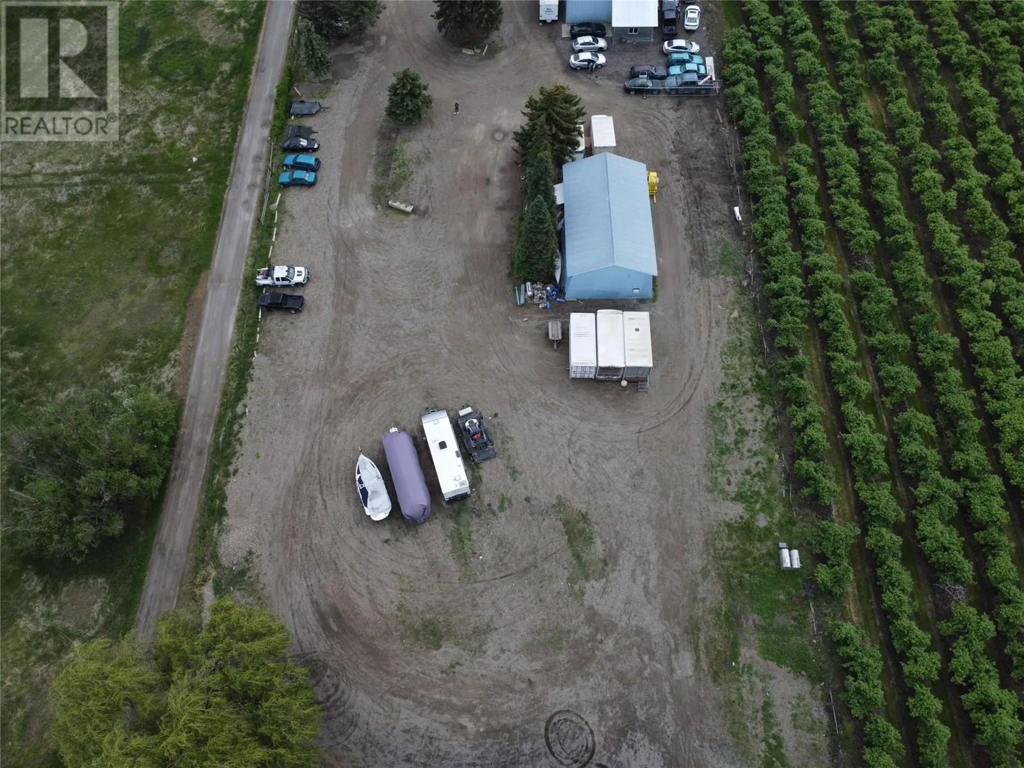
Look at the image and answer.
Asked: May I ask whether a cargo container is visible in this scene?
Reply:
Yes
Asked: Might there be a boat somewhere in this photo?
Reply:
Yes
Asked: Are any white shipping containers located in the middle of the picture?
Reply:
Yes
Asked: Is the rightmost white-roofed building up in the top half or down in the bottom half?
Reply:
top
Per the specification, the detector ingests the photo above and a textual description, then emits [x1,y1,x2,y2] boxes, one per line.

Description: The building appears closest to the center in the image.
[554,153,658,302]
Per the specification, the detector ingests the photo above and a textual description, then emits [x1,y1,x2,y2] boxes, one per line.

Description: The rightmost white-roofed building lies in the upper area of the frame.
[610,0,658,46]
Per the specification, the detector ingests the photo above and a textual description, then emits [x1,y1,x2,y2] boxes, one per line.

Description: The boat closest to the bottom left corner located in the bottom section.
[355,445,391,525]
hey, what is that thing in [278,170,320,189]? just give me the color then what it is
blue car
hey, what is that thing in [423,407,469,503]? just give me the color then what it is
white trailer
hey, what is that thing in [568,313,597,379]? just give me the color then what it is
white shipping container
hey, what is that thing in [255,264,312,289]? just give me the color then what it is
white truck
